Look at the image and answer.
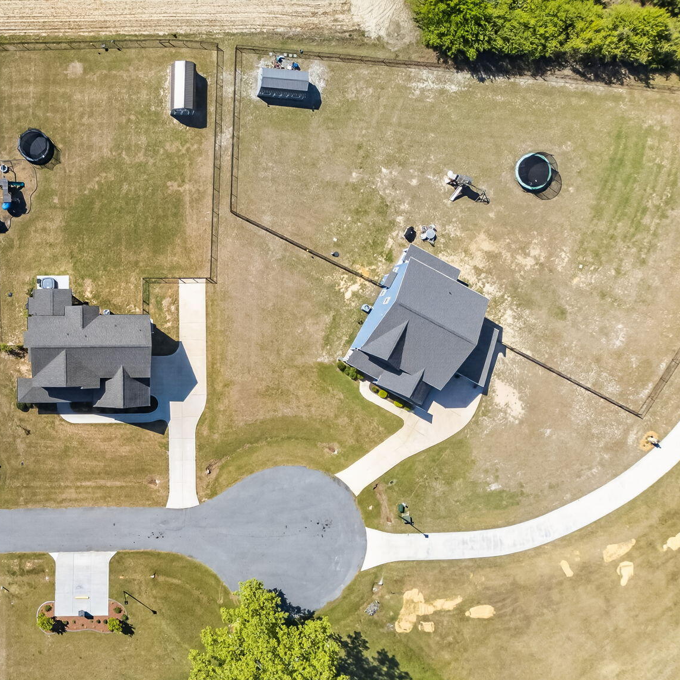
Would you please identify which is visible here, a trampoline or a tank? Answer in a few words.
trampoline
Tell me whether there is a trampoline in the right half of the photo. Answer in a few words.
Yes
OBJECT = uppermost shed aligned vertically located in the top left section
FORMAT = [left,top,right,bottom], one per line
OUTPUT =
[169,61,197,116]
